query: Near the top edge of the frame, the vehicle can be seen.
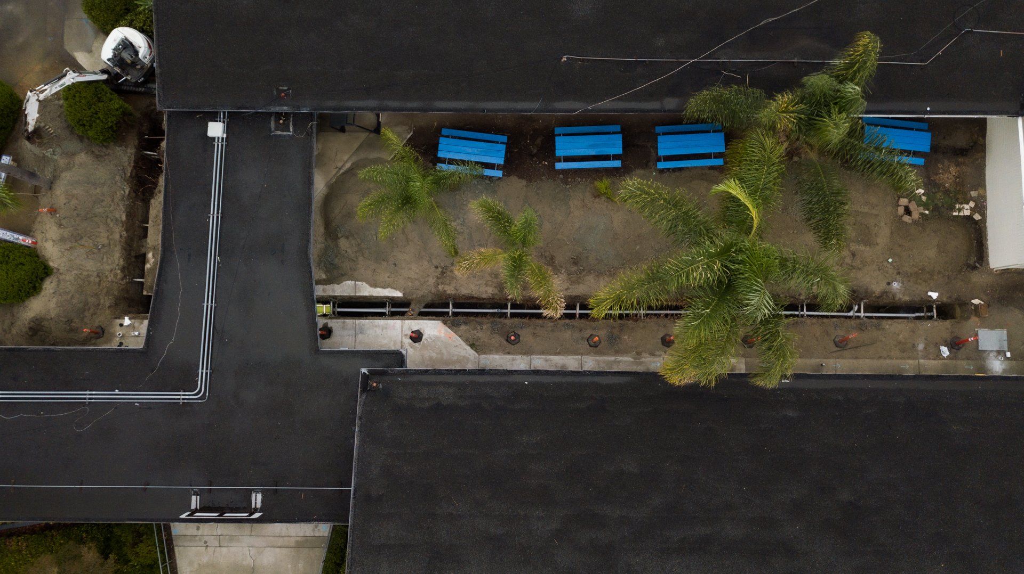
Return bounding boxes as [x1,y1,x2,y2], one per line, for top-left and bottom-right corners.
[23,27,156,141]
